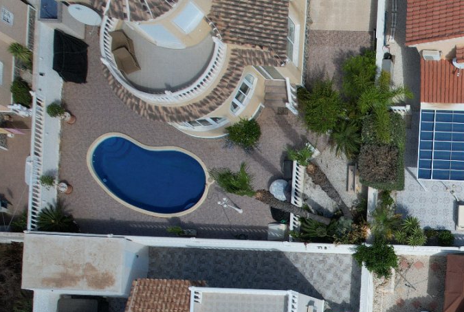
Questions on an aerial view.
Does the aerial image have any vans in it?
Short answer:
No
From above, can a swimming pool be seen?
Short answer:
Yes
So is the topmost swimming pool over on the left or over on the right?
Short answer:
left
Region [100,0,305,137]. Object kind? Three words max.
house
